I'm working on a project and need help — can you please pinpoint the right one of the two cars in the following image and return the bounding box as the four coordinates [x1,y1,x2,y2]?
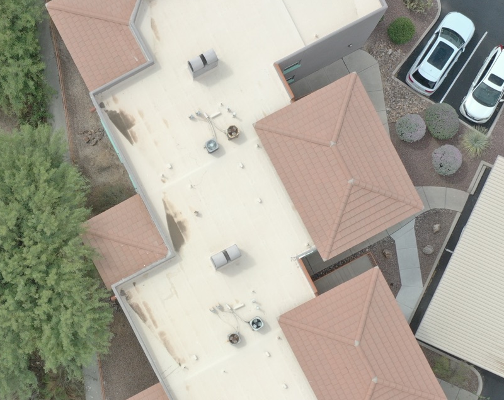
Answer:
[459,45,504,129]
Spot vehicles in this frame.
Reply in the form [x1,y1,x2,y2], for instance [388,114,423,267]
[459,45,504,129]
[404,12,472,103]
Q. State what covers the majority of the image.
buildings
